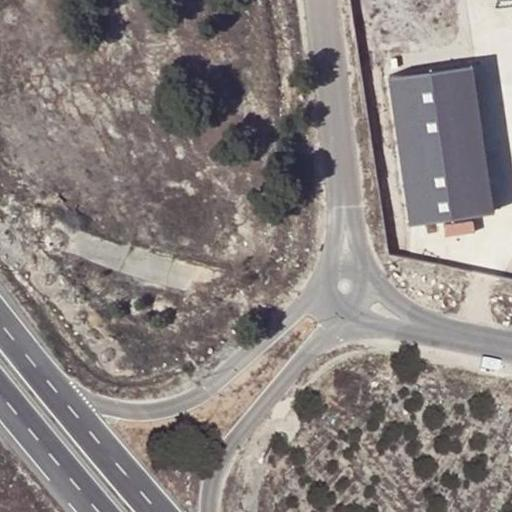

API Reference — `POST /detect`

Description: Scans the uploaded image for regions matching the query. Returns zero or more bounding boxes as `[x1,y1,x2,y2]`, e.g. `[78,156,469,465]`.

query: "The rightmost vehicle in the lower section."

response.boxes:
[480,356,504,370]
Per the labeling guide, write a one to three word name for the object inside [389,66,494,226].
building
